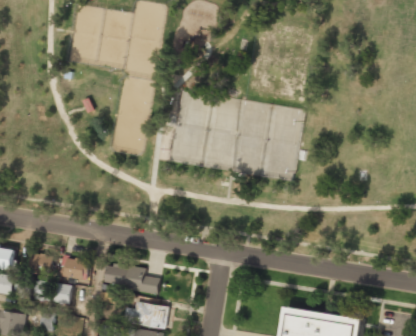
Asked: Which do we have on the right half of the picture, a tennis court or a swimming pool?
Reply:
tennis court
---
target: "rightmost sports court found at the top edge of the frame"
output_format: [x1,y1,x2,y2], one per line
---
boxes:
[126,0,166,78]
